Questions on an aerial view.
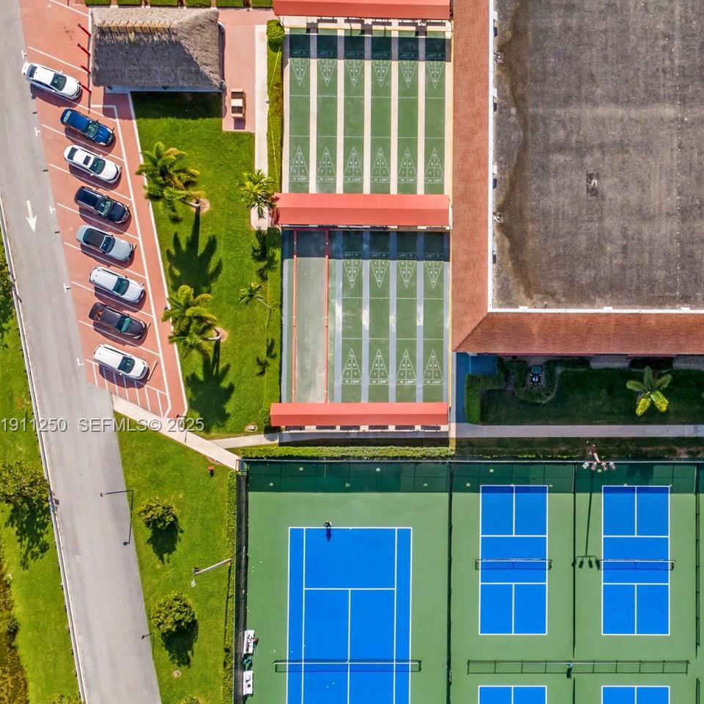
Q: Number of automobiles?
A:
8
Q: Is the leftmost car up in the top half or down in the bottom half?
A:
top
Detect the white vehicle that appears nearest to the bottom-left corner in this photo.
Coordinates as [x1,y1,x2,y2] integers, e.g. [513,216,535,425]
[89,342,152,383]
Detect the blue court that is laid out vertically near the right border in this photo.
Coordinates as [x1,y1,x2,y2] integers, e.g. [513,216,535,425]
[601,486,671,635]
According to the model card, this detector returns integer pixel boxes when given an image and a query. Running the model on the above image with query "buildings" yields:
[451,0,704,356]
[92,8,229,94]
